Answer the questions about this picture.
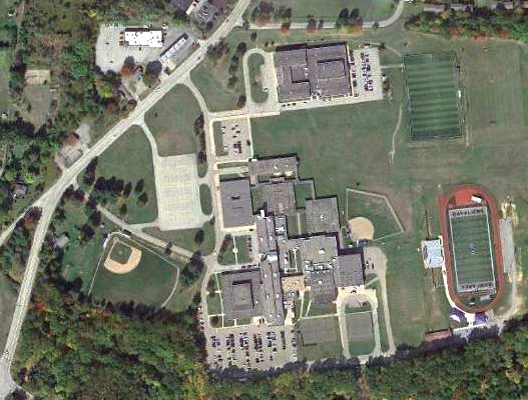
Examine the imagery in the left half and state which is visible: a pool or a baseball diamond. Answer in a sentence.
The feature located in the left half is a baseball diamond.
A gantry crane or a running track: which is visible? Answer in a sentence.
It is a running track that can be seen here.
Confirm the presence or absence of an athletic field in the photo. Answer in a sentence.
Yes, there is an athletic field in the image.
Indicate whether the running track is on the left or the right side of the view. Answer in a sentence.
You can find the running track on the right side of the picture.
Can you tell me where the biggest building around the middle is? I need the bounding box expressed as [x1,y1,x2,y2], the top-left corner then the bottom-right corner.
[220,157,363,325]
